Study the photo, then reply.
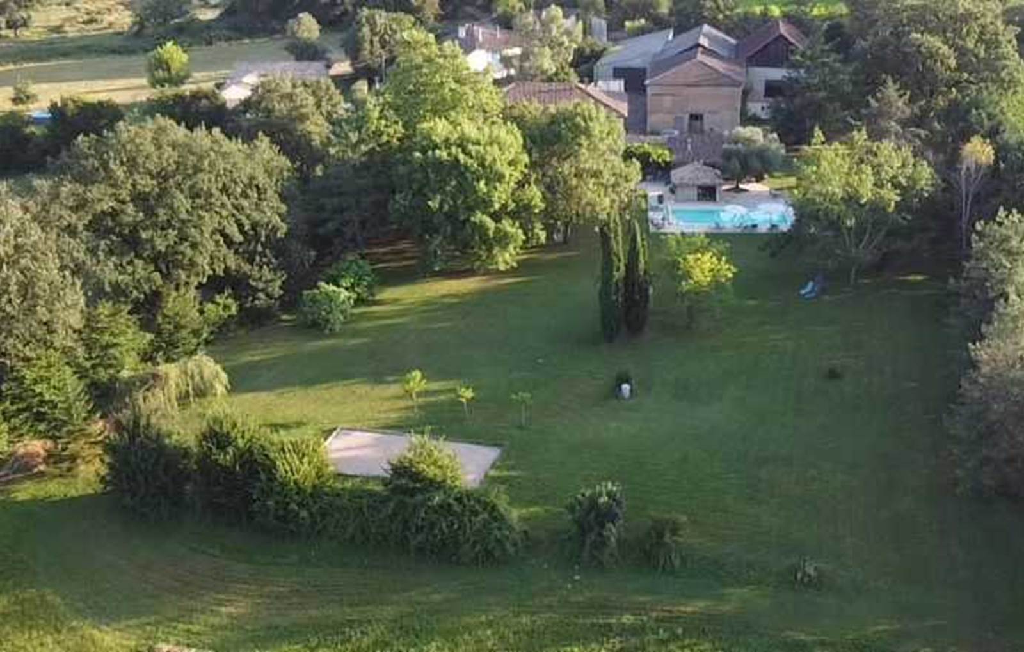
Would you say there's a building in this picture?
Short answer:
Yes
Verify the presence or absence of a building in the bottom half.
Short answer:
No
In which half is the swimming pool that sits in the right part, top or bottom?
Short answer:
top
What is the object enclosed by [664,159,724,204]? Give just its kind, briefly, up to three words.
building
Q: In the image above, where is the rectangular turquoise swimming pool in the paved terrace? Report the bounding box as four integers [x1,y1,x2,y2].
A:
[670,205,800,228]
